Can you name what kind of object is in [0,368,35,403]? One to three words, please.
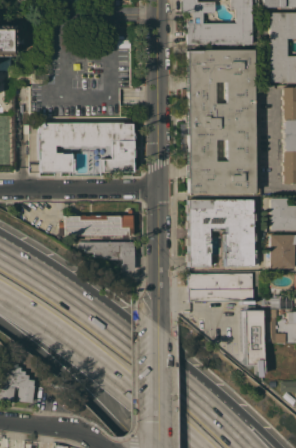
building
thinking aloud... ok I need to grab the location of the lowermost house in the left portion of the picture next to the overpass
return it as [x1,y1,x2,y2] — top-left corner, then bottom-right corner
[76,242,135,270]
